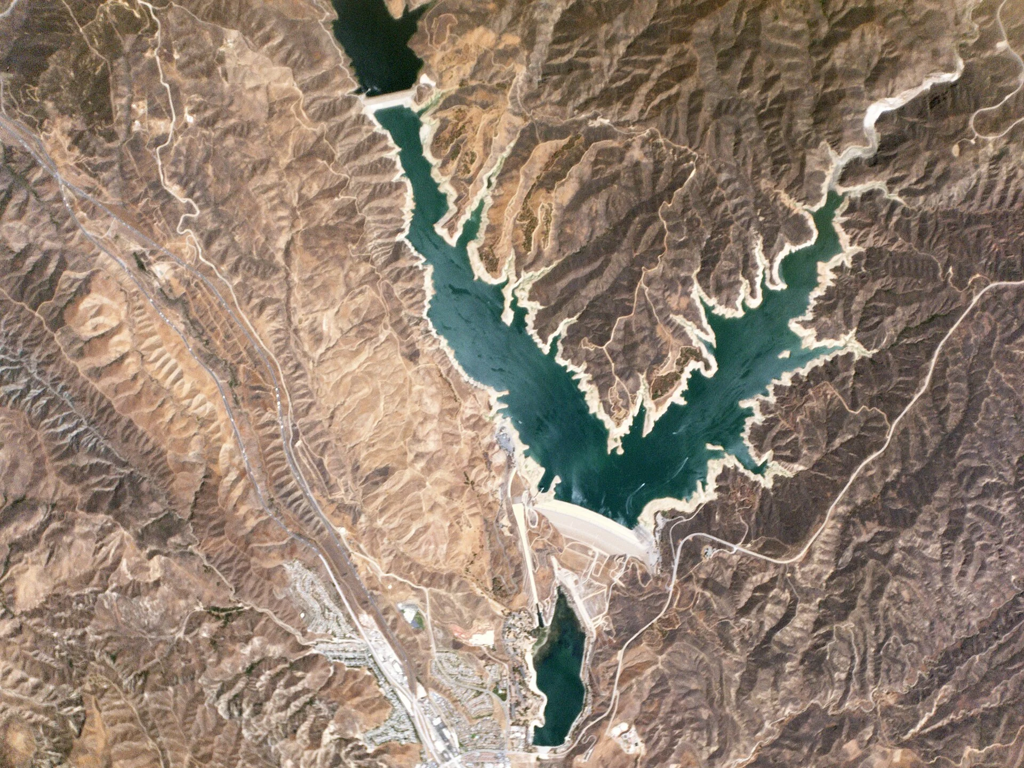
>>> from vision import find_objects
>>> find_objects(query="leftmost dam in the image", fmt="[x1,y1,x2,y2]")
[364,88,412,113]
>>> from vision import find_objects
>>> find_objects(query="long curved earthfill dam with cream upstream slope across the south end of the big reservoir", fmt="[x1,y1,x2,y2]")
[533,500,662,577]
